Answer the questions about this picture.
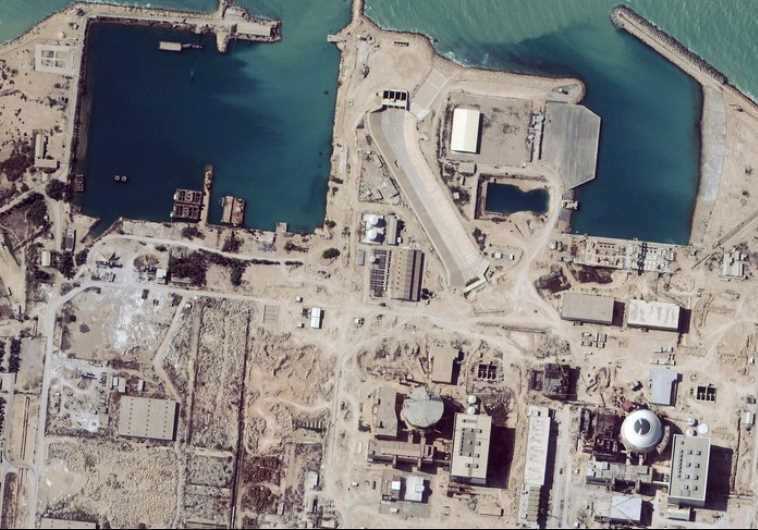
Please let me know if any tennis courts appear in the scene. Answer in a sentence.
No, the picture doesn't show any tennis court.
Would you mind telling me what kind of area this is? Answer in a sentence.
What you see here is a port.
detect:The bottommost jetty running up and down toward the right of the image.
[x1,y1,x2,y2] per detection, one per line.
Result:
[560,190,578,235]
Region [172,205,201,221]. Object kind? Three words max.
ship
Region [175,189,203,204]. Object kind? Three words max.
ship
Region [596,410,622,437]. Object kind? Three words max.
building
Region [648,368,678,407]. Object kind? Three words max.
building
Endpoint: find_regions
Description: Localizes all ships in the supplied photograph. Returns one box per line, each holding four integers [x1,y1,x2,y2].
[74,175,84,192]
[172,205,201,221]
[158,41,181,50]
[221,196,232,224]
[175,189,203,204]
[232,198,244,226]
